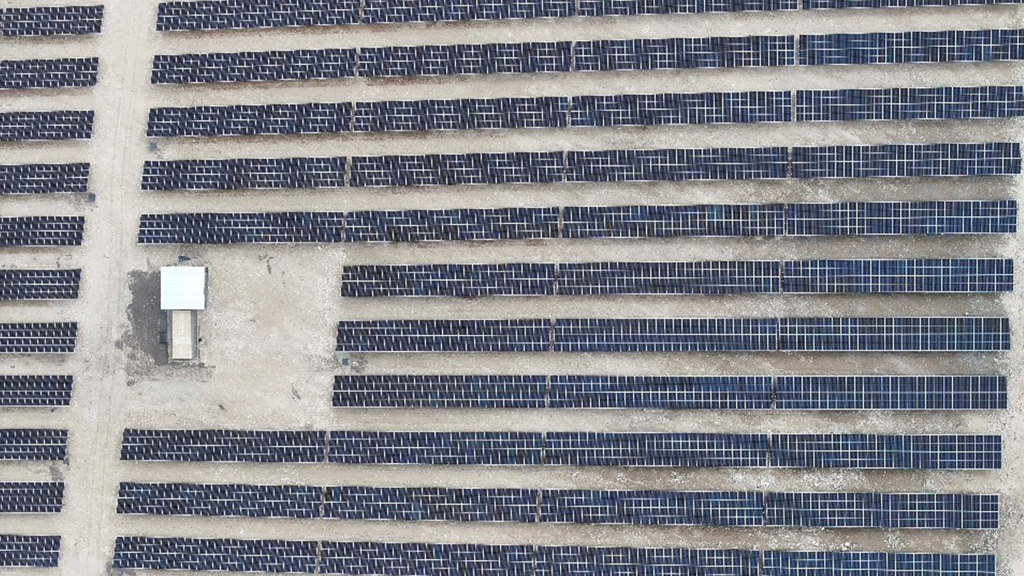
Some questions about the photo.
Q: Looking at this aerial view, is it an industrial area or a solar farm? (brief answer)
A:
solar farm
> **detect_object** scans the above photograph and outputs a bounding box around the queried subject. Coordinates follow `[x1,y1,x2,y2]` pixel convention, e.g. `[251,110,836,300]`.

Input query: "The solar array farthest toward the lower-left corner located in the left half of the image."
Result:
[0,534,61,567]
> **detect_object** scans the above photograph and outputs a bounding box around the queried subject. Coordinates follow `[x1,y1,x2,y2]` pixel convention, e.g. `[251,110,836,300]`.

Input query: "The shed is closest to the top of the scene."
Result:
[161,266,213,310]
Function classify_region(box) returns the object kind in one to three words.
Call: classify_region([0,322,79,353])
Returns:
solar array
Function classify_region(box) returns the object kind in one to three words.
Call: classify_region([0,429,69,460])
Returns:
solar array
